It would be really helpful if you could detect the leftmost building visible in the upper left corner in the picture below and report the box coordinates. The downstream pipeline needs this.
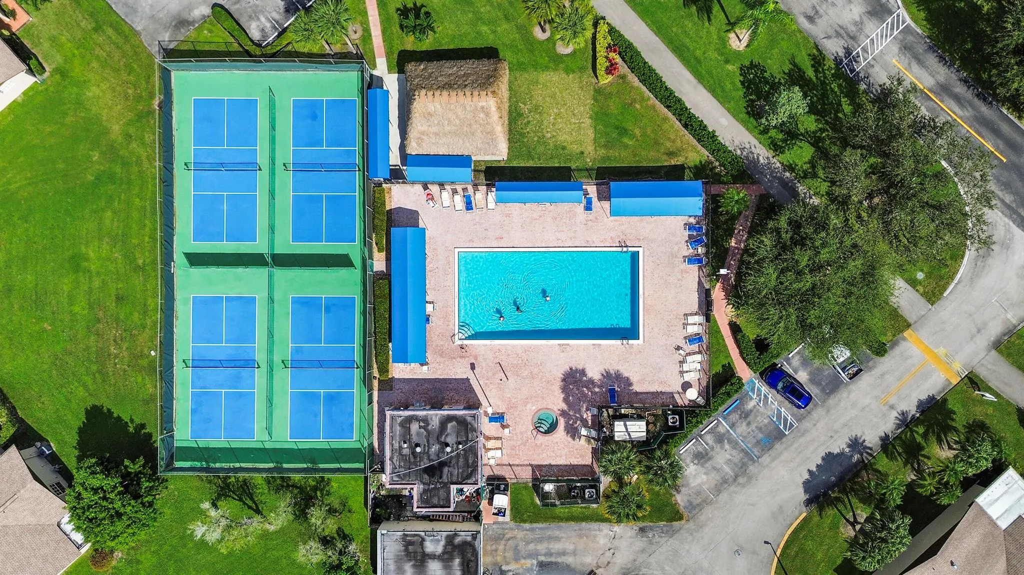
[0,37,36,110]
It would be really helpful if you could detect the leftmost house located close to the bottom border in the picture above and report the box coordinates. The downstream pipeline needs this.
[0,444,94,575]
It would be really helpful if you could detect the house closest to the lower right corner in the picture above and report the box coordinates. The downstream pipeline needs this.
[858,494,1024,575]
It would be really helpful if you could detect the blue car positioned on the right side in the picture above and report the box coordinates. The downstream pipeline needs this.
[761,365,814,410]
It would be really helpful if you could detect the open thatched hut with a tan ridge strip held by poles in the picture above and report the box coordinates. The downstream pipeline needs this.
[403,56,512,165]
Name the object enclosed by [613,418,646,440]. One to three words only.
shed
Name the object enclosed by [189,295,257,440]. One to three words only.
sports court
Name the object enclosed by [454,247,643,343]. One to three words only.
swimming pool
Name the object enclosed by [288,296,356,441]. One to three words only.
sports court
